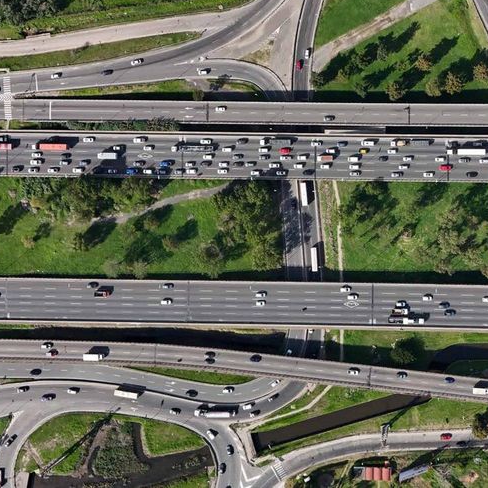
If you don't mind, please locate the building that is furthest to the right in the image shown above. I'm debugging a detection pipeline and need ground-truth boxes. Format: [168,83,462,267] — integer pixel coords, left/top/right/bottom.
[365,468,392,486]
